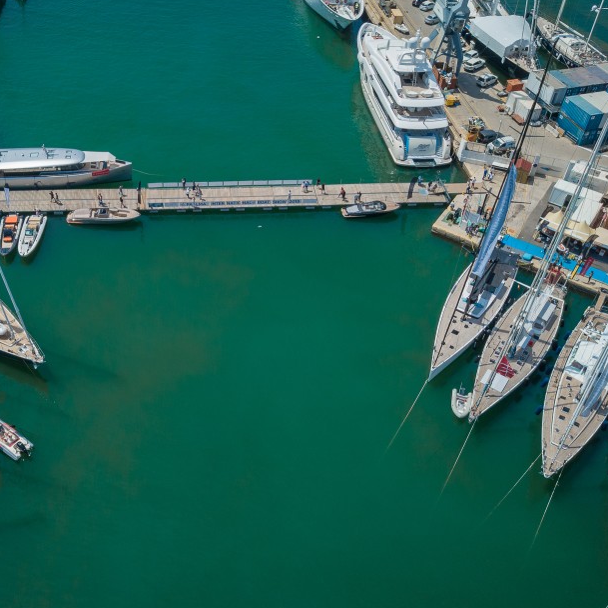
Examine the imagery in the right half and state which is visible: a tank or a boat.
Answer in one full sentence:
It is a boat that can be seen in the right half.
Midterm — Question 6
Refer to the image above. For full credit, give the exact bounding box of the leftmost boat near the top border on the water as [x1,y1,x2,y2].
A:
[307,0,369,40]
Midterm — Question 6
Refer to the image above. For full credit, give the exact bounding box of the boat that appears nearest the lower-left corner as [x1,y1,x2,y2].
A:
[0,417,38,465]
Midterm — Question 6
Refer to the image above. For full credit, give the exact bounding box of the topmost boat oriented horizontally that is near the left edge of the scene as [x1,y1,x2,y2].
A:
[0,149,162,193]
